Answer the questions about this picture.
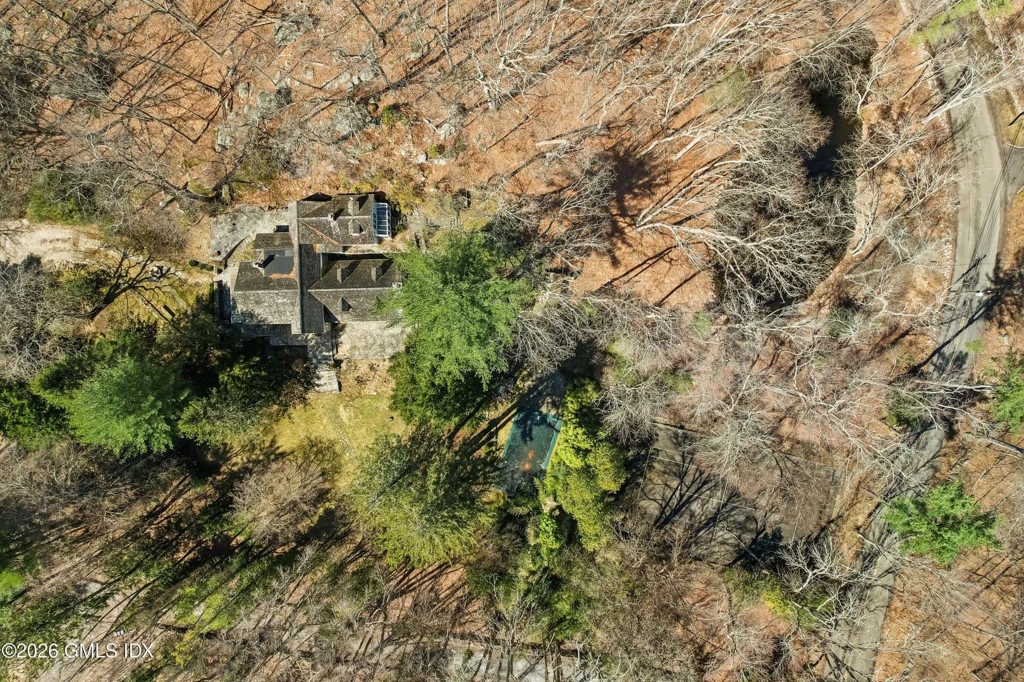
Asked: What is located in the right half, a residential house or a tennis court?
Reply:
tennis court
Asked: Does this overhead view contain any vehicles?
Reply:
No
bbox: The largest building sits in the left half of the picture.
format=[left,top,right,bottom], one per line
[230,194,407,335]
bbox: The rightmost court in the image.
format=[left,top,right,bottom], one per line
[617,420,829,581]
